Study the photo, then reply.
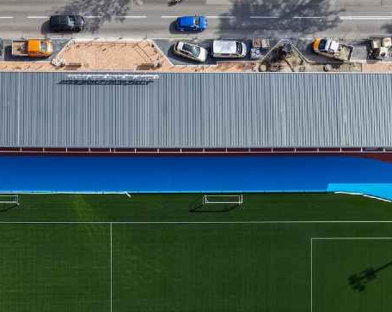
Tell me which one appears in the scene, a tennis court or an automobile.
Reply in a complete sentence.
Looking from above, you can make out an automobile.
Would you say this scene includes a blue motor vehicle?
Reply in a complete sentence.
Yes, the picture does show a blue motor vehicle.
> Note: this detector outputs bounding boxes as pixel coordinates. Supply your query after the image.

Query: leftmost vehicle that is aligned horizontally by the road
[14,38,52,57]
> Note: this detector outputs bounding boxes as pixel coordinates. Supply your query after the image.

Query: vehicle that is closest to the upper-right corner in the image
[368,39,390,59]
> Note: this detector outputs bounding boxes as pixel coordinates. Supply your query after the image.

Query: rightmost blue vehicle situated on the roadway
[176,16,206,33]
